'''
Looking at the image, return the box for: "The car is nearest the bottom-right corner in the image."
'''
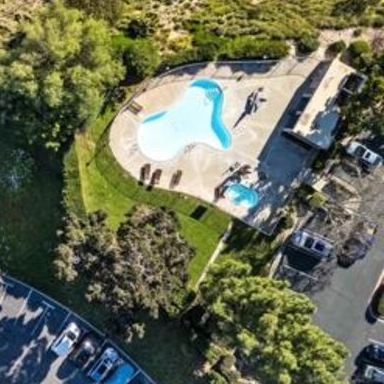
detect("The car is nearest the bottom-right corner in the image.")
[360,362,384,384]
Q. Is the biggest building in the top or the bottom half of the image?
top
